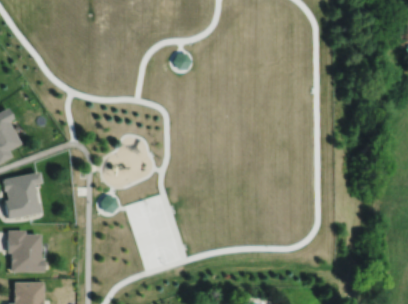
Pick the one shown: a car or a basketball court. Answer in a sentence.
Looking from above, you can make out a basketball court.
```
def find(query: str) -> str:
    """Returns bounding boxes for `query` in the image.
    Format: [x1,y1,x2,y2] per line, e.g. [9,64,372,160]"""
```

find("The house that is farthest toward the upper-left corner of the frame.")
[0,108,22,158]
